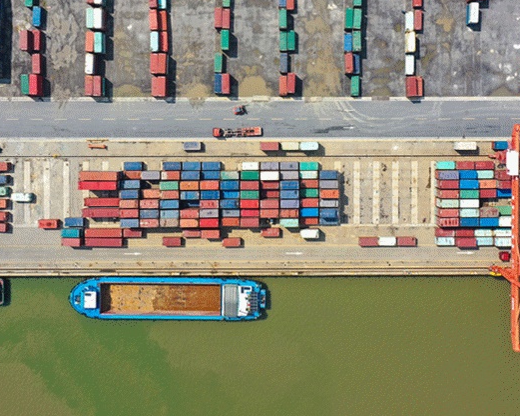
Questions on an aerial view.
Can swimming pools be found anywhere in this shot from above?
No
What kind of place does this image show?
port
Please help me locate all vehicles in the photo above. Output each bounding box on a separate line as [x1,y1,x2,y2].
[8,193,33,203]
[500,252,511,263]
[212,127,262,138]
[234,106,247,114]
